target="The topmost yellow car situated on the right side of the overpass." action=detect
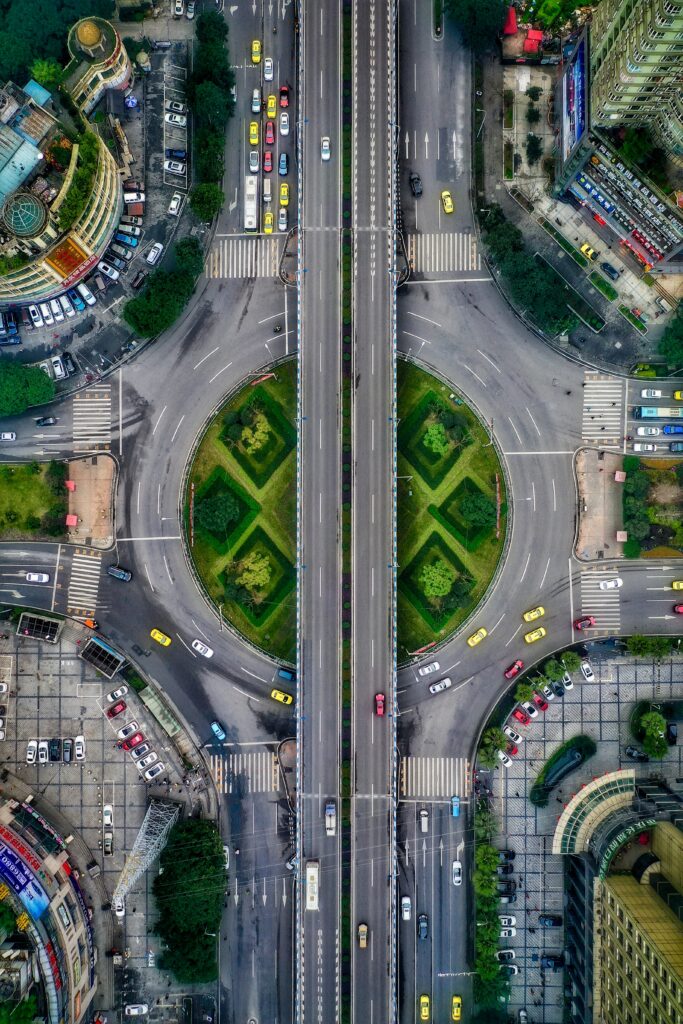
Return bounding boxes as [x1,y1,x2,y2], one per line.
[441,191,453,215]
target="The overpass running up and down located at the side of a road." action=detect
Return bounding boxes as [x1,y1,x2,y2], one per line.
[299,0,396,1024]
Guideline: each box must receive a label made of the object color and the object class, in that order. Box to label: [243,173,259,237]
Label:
white vehicle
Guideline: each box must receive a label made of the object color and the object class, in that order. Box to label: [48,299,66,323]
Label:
white vehicle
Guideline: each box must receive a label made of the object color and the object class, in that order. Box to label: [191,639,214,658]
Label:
white car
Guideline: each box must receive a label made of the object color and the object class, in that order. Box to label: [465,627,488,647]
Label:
yellow car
